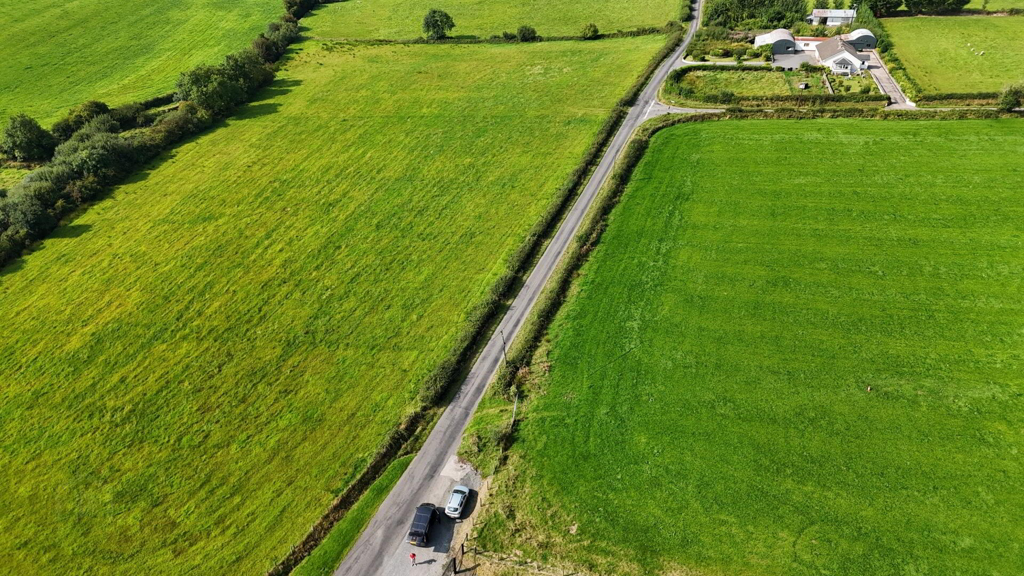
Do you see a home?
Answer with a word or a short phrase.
Yes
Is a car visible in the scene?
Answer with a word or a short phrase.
Yes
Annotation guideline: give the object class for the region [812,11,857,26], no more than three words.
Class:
shed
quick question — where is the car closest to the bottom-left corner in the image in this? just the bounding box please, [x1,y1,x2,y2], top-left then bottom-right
[404,503,438,545]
